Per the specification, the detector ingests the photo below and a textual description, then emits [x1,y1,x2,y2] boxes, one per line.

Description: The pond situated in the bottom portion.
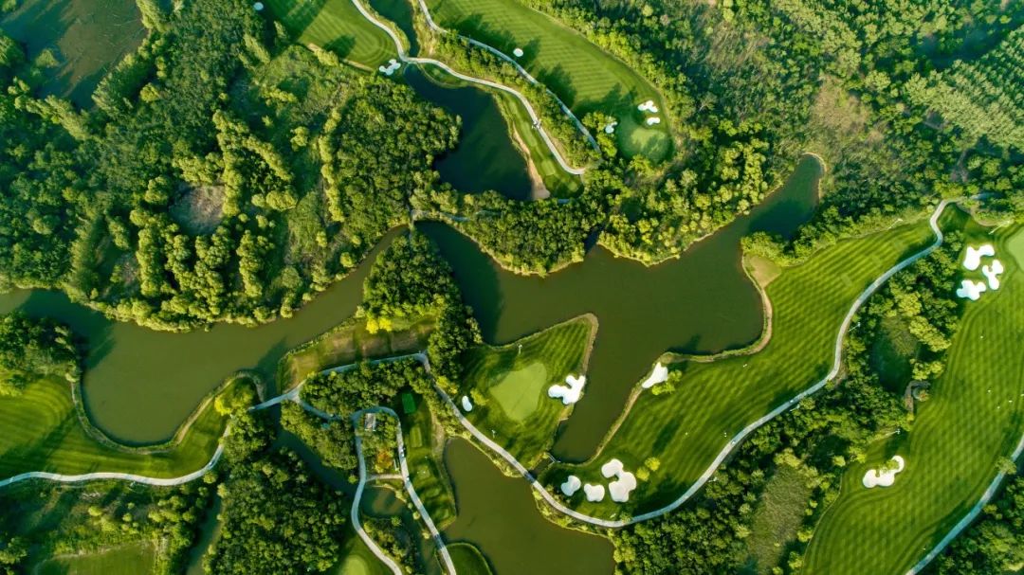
[444,439,616,575]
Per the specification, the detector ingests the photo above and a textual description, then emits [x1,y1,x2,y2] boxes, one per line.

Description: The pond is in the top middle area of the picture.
[368,0,530,201]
